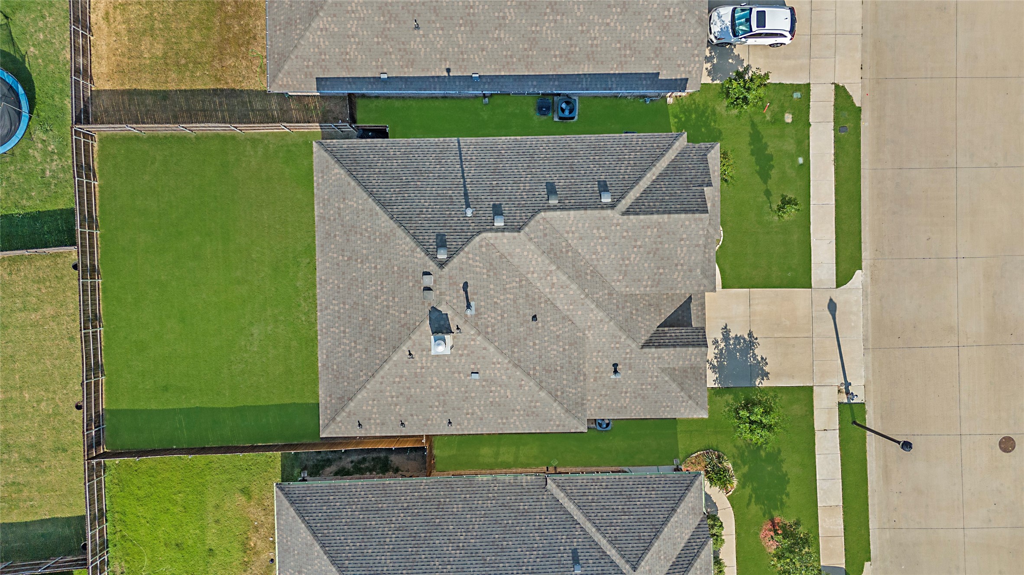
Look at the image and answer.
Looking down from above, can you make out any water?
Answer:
No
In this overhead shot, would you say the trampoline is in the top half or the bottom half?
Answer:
top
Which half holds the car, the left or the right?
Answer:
right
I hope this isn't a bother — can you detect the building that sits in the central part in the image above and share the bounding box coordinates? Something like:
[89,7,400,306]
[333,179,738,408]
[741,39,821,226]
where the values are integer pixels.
[312,131,723,439]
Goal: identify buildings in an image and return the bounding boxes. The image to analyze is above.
[272,458,715,575]
[312,131,723,439]
[264,0,709,103]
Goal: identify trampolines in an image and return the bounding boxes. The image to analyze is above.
[0,66,45,158]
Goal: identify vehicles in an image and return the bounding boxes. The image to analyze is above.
[708,0,797,46]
